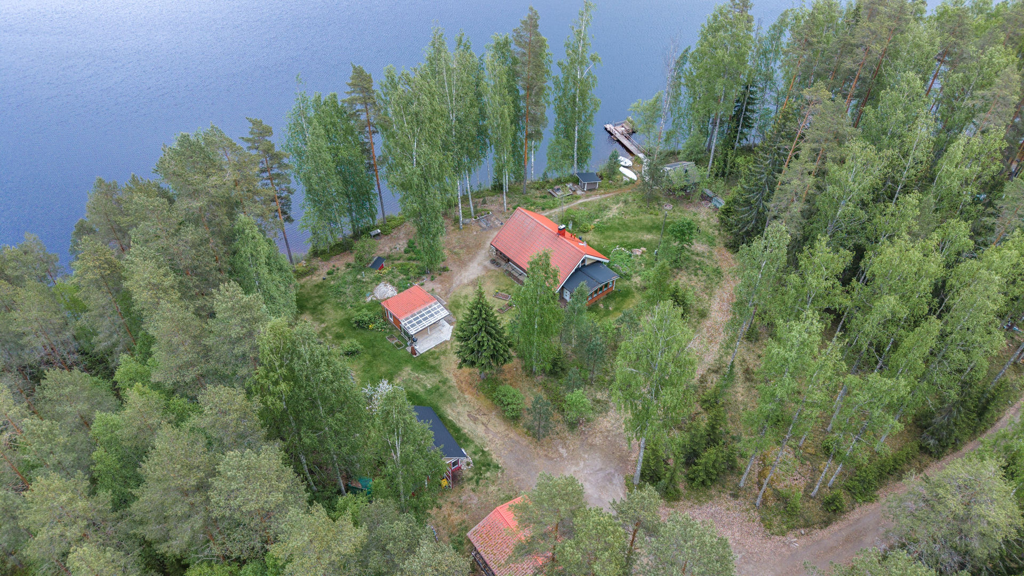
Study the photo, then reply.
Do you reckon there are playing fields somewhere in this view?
No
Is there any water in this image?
Yes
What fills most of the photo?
trees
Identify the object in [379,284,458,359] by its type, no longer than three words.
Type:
building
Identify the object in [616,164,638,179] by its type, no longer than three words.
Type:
boat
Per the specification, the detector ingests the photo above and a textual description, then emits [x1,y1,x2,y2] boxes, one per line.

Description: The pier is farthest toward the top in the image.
[604,117,648,155]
